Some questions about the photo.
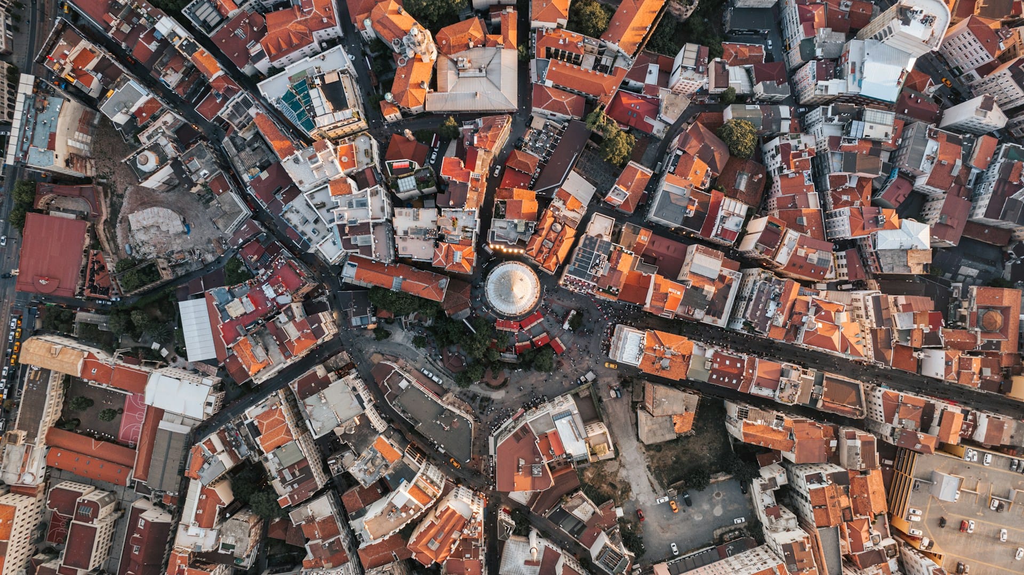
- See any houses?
Yes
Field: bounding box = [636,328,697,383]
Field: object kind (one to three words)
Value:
house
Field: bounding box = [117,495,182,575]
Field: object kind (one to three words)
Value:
house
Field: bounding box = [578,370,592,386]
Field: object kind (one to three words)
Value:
vehicle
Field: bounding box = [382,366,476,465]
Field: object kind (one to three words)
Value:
building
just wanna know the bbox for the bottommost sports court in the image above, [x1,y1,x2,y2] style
[48,513,69,546]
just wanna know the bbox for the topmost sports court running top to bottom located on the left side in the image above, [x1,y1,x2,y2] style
[120,394,144,440]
